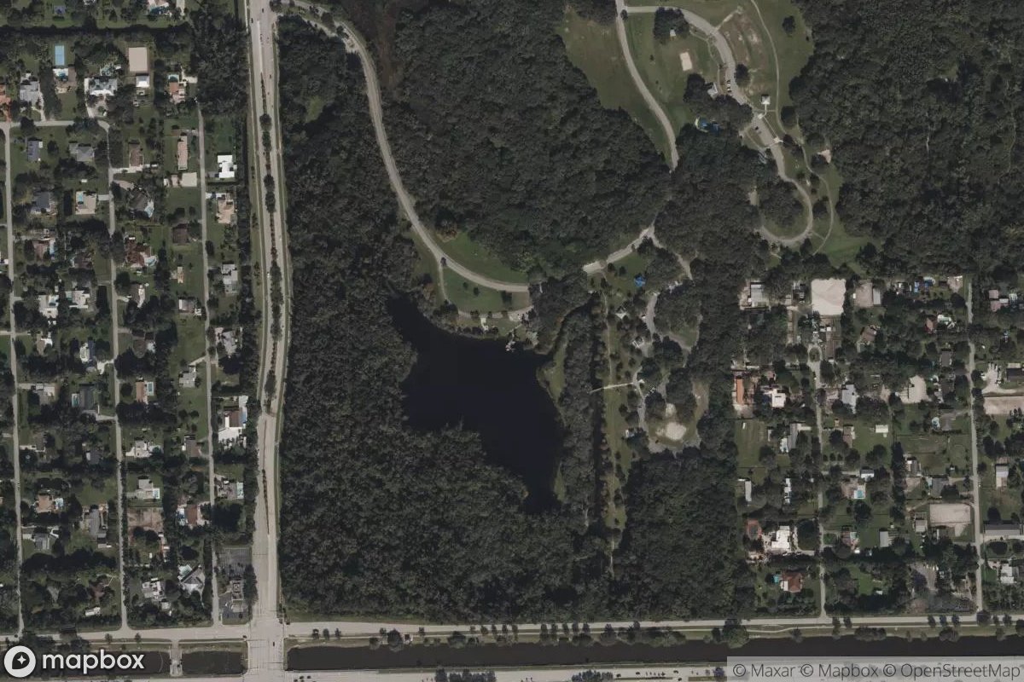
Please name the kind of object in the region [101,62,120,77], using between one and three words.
swimming pool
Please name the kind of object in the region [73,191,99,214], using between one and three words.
house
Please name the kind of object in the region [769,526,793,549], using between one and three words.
house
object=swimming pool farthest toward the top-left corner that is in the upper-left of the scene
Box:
[53,68,68,81]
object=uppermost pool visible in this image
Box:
[150,3,171,16]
